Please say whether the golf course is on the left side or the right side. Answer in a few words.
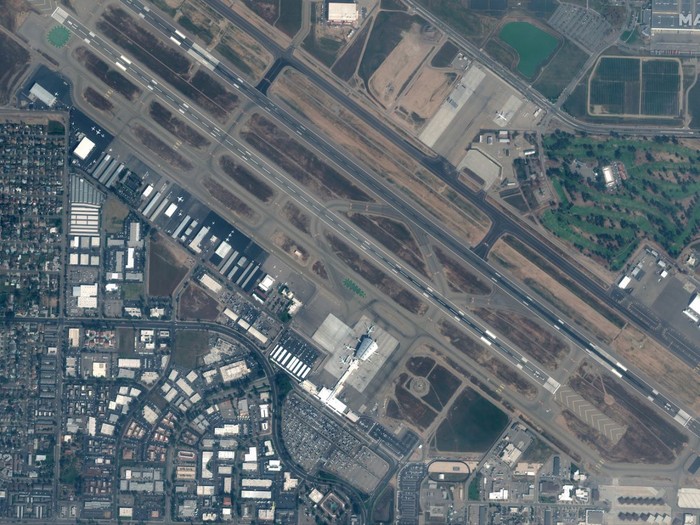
right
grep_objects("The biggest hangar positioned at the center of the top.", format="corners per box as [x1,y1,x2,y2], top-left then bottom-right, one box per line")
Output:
[328,1,358,22]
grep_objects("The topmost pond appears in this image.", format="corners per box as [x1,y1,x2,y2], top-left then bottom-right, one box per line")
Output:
[500,22,558,79]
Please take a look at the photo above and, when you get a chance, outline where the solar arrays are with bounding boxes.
[588,56,684,118]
